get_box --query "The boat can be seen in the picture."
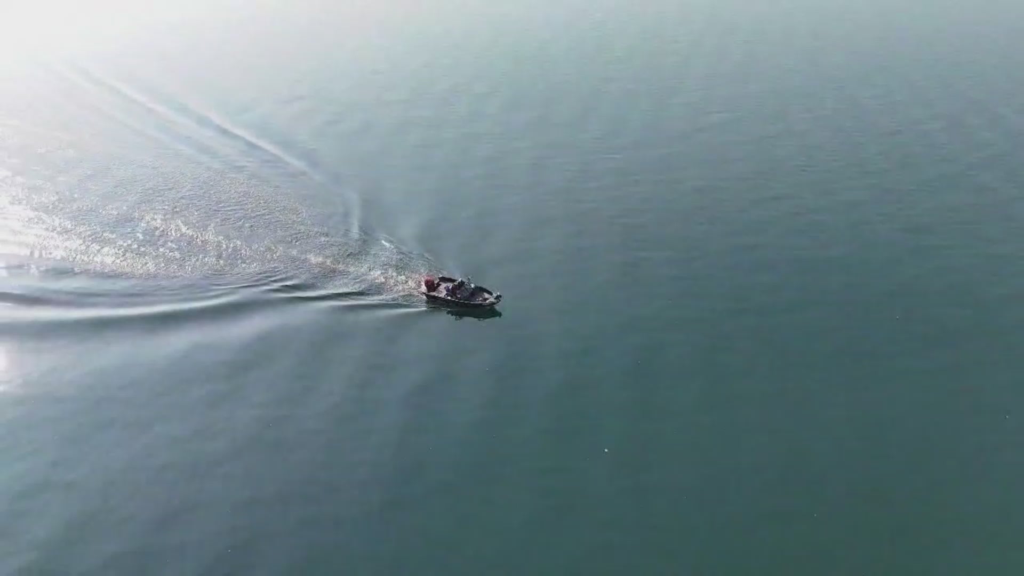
[423,274,503,310]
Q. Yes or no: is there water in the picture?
Yes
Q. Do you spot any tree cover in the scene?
No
